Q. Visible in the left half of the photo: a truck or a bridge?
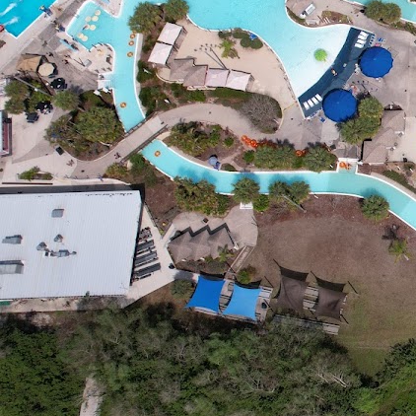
bridge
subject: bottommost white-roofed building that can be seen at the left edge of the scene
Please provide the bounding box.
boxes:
[0,191,143,302]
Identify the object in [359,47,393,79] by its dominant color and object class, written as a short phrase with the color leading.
blue umbrella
